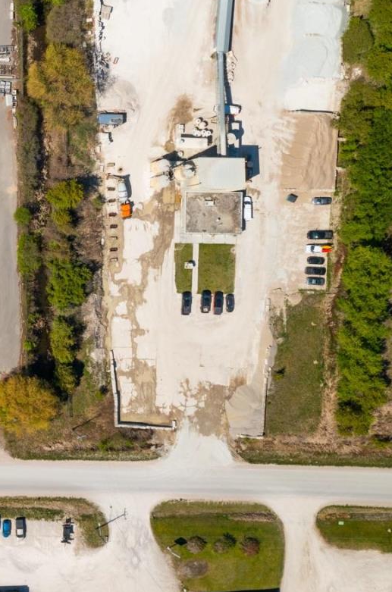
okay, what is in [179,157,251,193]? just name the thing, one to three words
building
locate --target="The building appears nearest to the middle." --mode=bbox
[180,193,244,233]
